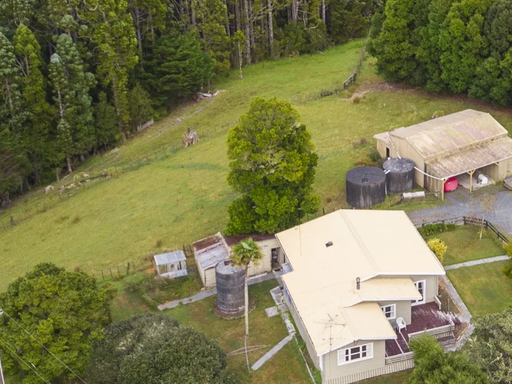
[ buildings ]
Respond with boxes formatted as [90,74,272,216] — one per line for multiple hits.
[276,208,458,384]
[189,229,231,289]
[153,252,189,284]
[368,109,512,201]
